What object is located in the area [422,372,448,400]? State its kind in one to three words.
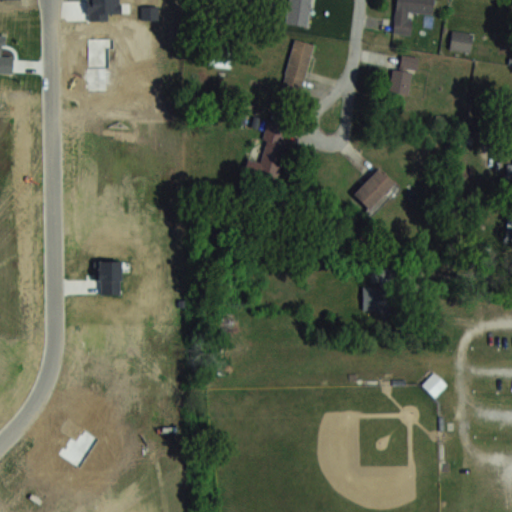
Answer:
building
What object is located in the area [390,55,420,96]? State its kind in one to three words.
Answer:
house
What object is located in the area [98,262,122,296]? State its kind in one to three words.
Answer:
house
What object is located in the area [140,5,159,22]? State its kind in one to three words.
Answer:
building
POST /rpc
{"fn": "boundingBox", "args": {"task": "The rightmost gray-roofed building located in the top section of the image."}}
[450,31,474,54]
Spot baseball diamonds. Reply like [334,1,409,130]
[210,383,445,512]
